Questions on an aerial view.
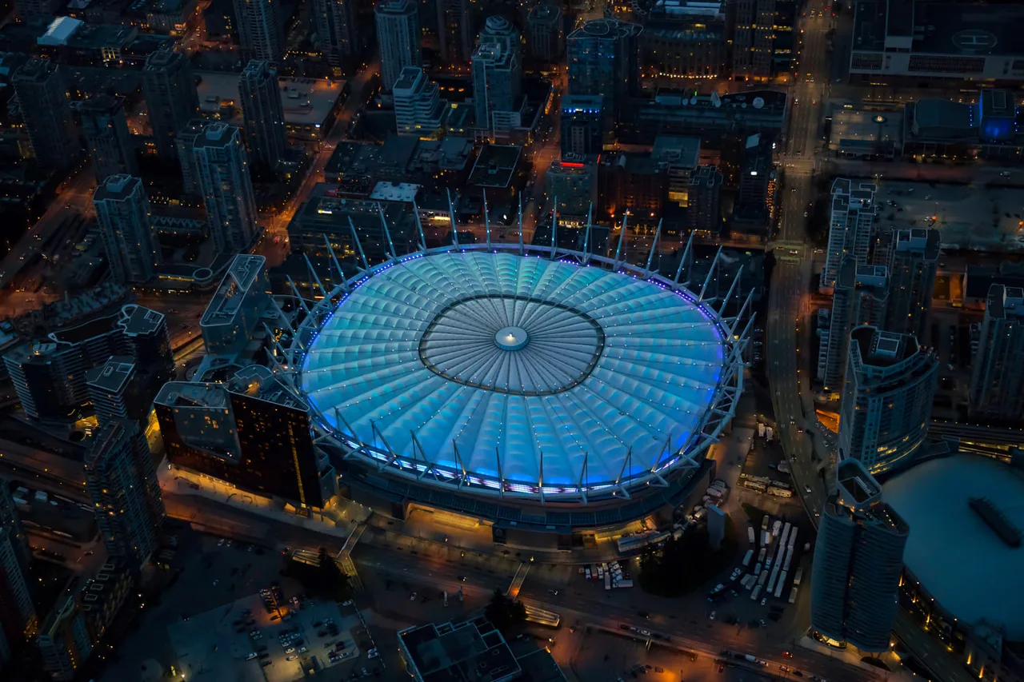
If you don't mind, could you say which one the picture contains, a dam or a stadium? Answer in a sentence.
It is a stadium that can be seen here.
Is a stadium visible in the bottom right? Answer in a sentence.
Yes, looking in the bottom right, one can make out a stadium.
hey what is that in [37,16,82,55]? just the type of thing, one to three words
building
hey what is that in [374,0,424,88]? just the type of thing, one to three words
building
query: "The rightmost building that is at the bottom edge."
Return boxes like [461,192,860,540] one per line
[806,457,910,653]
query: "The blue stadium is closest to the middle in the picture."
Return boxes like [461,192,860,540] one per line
[267,190,758,547]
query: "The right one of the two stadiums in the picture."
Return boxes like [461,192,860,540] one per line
[880,455,1024,682]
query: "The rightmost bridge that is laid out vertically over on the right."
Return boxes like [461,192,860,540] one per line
[766,0,834,532]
